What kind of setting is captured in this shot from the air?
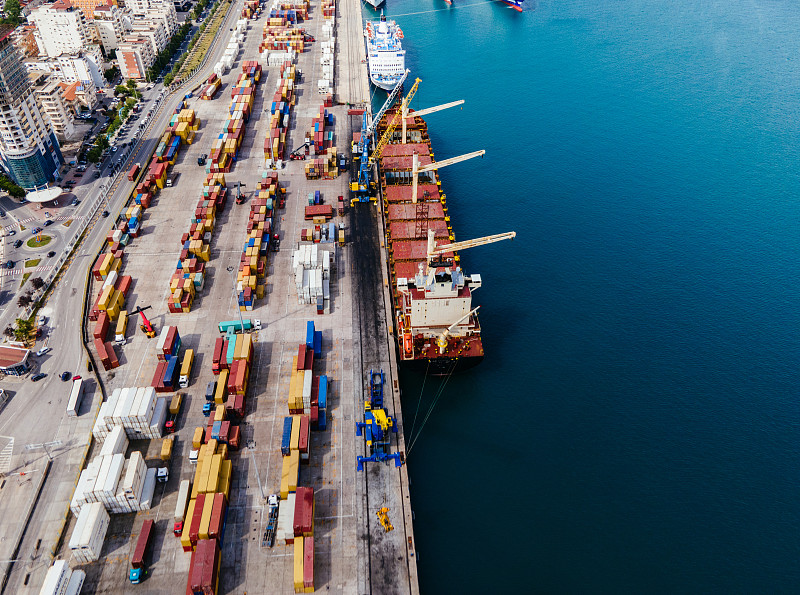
port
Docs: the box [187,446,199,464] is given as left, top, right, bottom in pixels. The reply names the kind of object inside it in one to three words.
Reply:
vehicle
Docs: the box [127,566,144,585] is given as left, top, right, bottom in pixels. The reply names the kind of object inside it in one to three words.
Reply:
vehicle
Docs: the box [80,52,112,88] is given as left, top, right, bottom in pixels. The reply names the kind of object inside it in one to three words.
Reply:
building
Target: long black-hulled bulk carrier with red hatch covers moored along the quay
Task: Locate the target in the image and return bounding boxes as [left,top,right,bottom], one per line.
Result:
[377,98,521,370]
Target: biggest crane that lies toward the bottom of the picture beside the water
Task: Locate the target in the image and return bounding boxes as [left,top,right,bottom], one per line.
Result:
[359,358,400,472]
